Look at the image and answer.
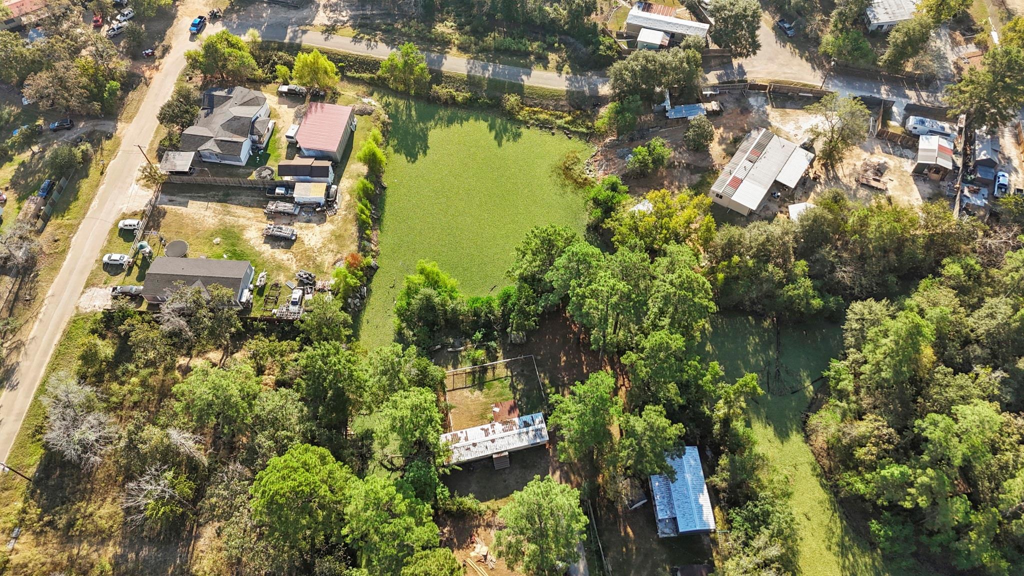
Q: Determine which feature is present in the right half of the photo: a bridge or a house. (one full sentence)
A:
You can see a house in the right half of the photo.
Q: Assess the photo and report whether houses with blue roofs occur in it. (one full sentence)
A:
Yes, looking at the shot, I can spot a house with a blue roof.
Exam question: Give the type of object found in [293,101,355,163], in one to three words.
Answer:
building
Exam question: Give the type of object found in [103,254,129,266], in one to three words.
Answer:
vehicle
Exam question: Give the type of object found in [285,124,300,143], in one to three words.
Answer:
vehicle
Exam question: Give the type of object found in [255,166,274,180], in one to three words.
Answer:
trampoline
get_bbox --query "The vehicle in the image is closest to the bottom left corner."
[110,285,142,297]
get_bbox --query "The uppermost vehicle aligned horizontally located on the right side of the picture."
[904,116,956,143]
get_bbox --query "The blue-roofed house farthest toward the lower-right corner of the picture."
[646,445,715,537]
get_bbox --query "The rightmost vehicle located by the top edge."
[776,20,796,36]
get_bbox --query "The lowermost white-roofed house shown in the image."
[440,412,549,477]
